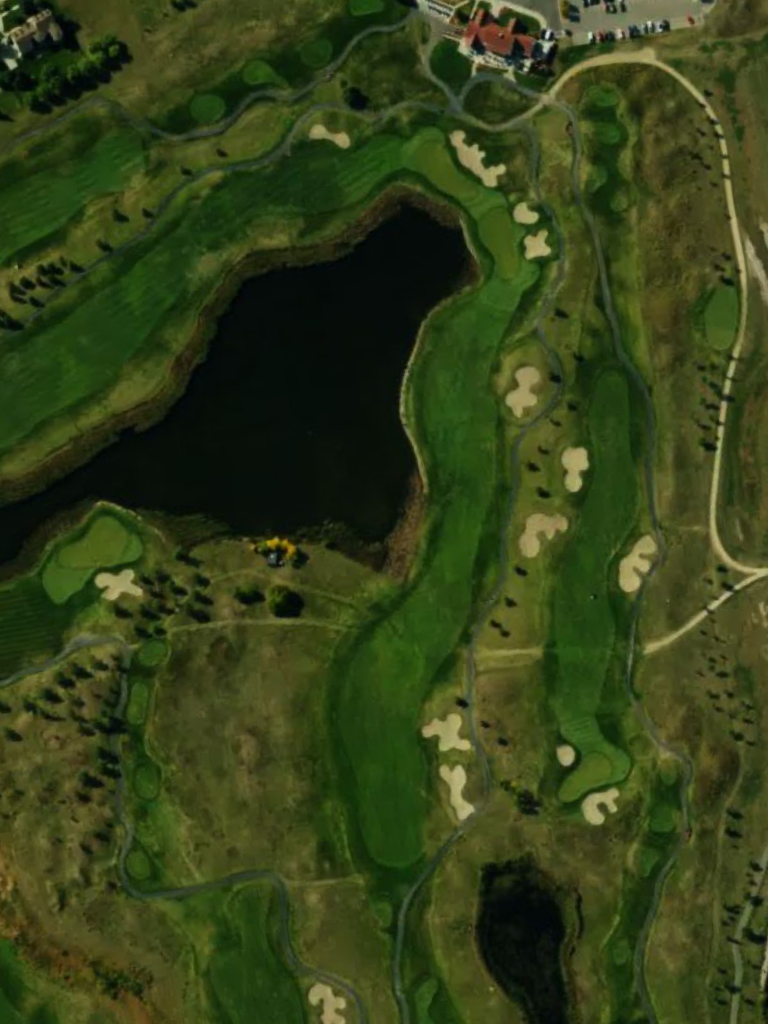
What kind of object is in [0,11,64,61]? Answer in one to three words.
house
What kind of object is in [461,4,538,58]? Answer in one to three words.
building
